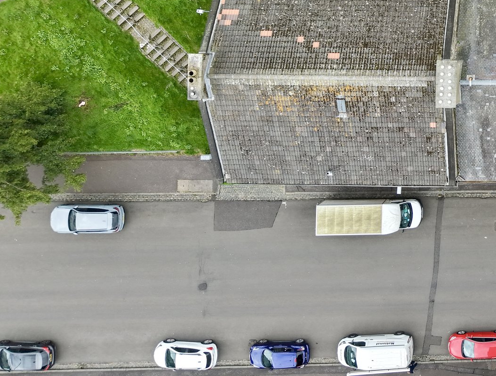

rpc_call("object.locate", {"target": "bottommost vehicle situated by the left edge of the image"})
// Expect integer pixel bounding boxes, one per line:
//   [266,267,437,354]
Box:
[0,340,61,376]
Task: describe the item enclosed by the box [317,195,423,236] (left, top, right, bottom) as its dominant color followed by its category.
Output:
white van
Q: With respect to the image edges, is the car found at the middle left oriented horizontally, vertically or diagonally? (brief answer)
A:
horizontally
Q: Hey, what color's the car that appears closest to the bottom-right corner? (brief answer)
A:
red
